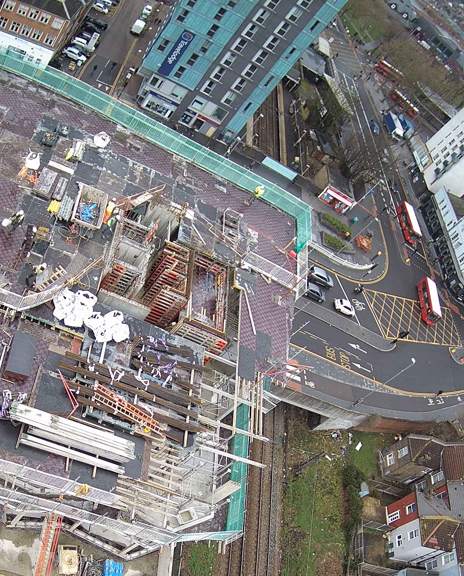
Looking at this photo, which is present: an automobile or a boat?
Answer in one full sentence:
Looking from above, you can make out an automobile.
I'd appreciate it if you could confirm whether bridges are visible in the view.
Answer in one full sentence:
Yes, there's a bridge here.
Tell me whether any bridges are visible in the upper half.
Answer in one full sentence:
No, the scene shows no bridge in the upper half.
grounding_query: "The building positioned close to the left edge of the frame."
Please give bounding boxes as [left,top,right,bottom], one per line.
[0,0,94,67]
